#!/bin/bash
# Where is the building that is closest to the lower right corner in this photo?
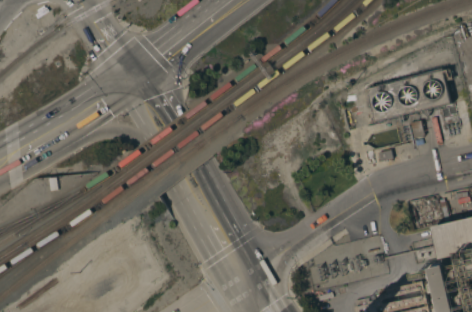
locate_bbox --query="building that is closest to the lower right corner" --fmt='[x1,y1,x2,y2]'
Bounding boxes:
[425,264,457,312]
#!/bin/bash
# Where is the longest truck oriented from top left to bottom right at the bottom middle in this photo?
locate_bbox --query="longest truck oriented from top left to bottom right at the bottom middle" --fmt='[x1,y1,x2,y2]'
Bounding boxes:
[253,246,279,286]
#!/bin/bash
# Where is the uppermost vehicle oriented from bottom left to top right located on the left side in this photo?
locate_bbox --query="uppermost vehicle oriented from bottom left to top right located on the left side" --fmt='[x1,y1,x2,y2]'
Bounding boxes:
[168,0,202,24]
